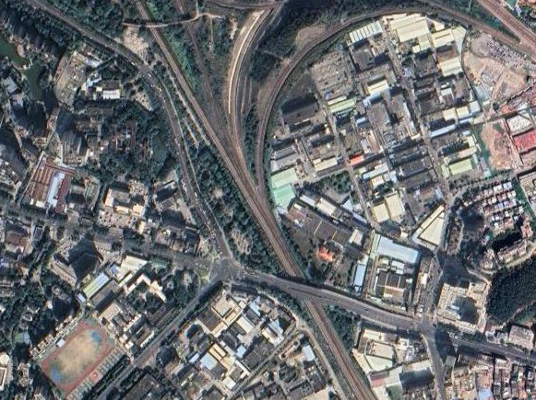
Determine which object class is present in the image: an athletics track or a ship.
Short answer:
athletics track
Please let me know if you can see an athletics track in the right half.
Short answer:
No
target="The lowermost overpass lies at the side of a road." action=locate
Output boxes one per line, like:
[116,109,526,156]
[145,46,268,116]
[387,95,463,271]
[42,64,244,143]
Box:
[270,274,339,301]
